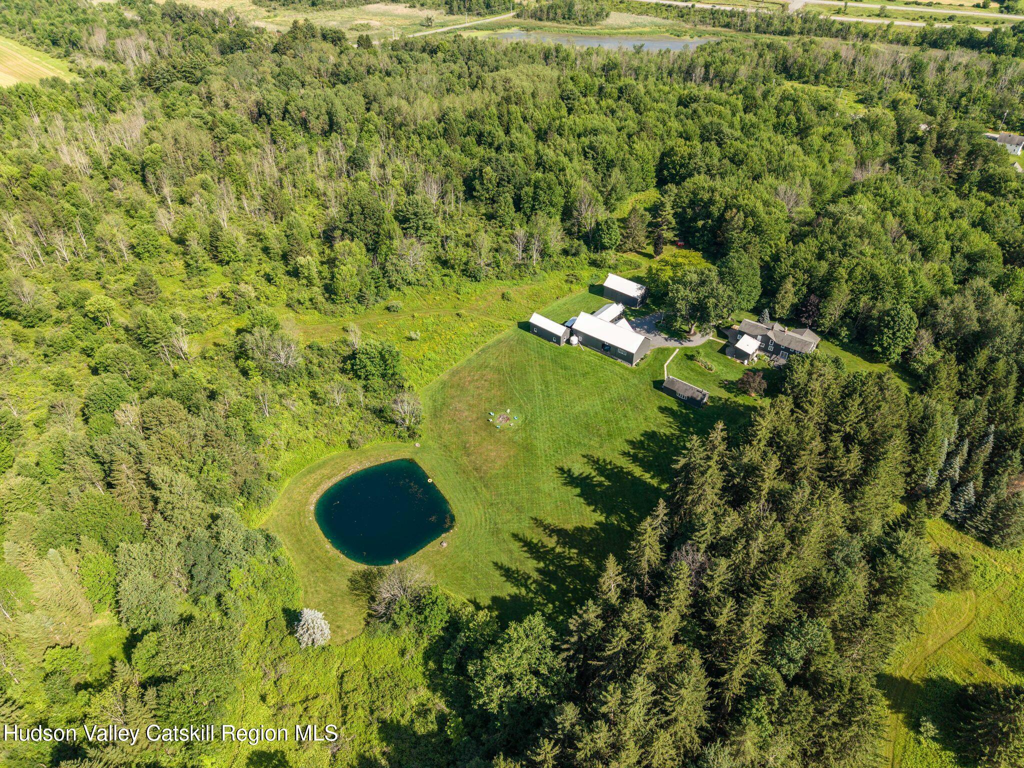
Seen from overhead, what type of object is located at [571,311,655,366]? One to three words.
barn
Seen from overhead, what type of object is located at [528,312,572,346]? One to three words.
barn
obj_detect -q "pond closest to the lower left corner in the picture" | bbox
[314,458,455,565]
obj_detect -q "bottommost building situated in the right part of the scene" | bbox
[661,373,715,409]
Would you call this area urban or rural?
rural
